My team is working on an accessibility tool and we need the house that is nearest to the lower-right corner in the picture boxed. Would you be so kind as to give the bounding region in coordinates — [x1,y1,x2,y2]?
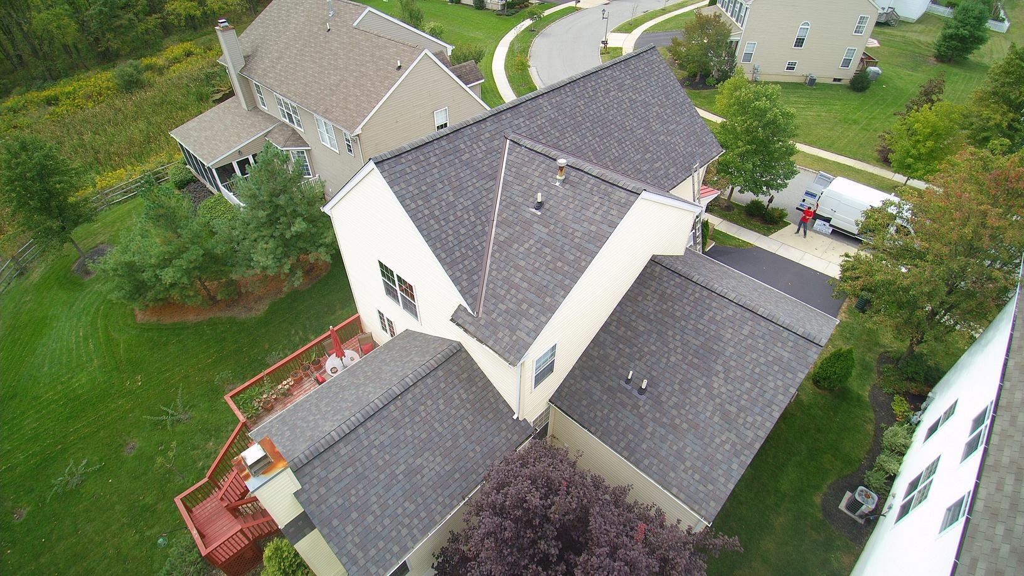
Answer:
[856,253,1024,576]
